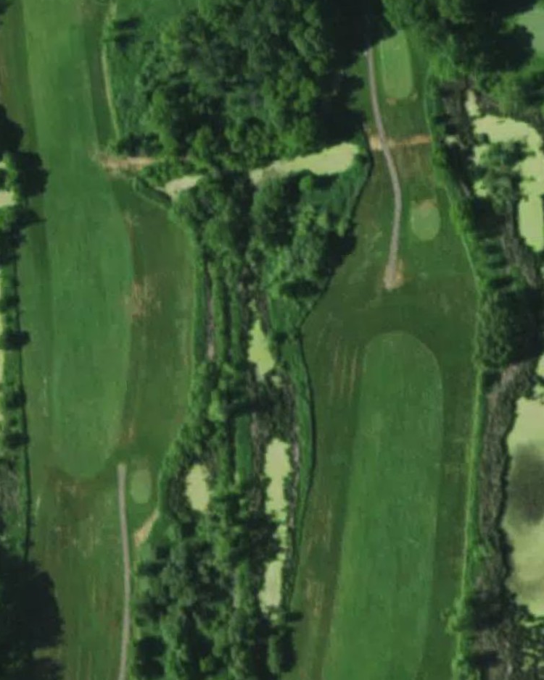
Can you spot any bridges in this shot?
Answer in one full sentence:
No, no bridge can be seen from above.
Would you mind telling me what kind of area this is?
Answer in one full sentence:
It's a golf course.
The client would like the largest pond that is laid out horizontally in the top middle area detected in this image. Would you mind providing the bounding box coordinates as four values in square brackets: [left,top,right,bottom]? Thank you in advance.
[246,143,358,187]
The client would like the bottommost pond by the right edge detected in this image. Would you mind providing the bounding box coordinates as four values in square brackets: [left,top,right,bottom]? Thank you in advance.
[504,388,544,619]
